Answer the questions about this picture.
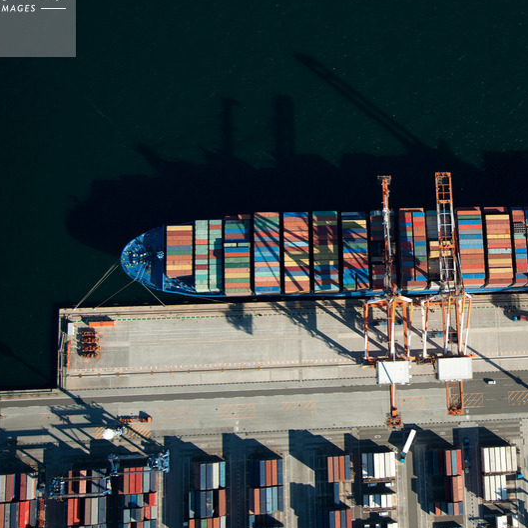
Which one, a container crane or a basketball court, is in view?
container crane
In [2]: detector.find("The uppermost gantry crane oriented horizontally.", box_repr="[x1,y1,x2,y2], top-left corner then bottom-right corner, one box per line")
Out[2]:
[109,447,180,476]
